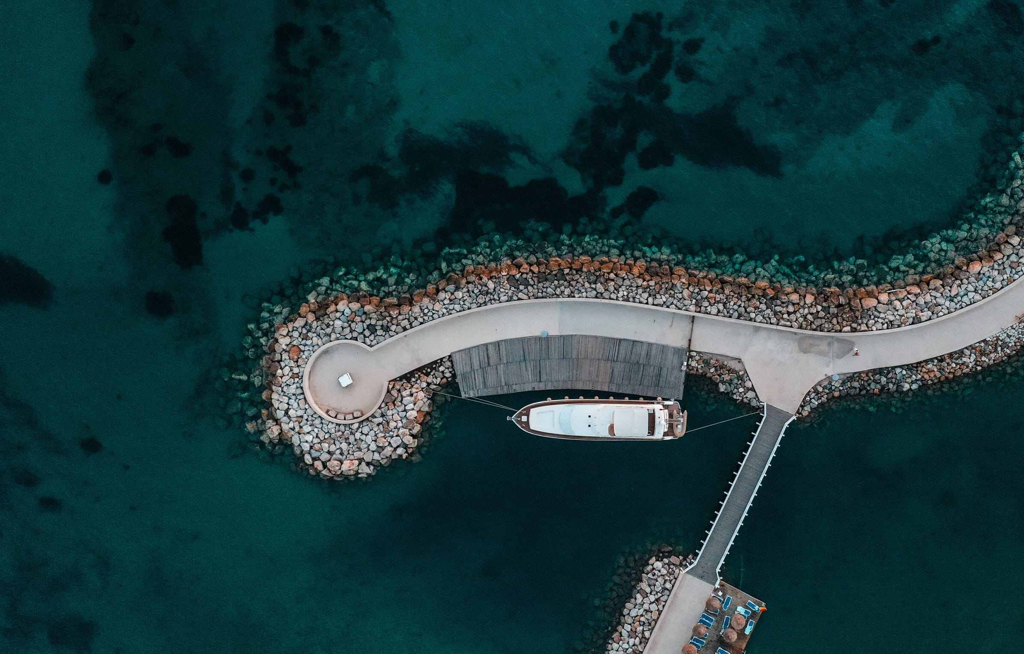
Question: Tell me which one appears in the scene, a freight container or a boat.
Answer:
boat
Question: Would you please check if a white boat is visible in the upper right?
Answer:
No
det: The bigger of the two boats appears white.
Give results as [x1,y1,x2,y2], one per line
[507,399,685,441]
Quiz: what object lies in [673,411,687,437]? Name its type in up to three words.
boat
